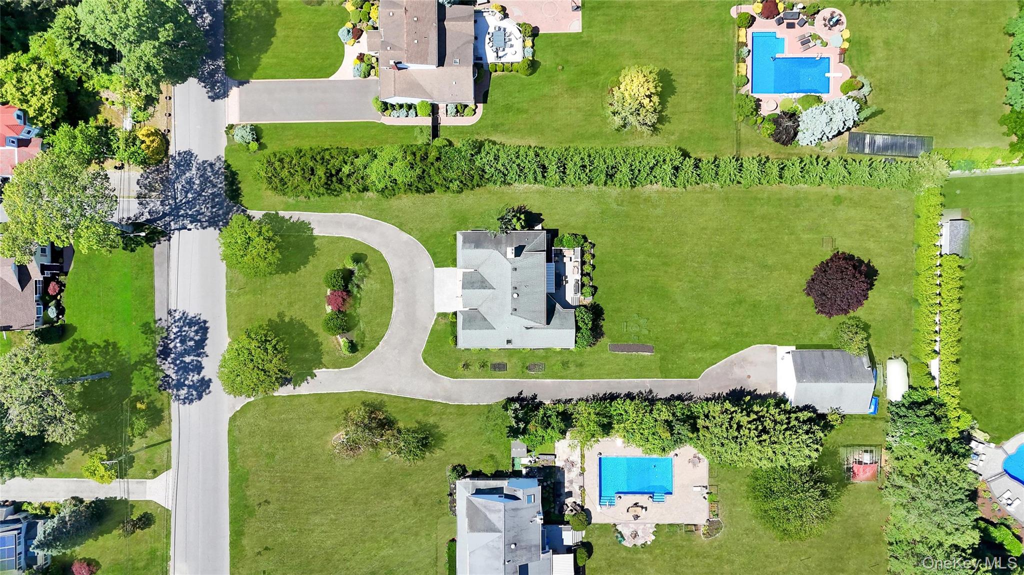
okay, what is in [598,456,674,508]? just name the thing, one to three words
swimming pool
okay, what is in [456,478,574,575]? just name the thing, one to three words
house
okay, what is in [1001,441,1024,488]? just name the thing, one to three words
swimming pool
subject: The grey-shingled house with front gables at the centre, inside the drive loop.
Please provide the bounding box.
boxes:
[457,231,576,348]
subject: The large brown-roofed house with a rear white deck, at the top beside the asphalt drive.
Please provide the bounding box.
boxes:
[365,0,477,106]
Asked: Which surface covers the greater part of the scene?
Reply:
grass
